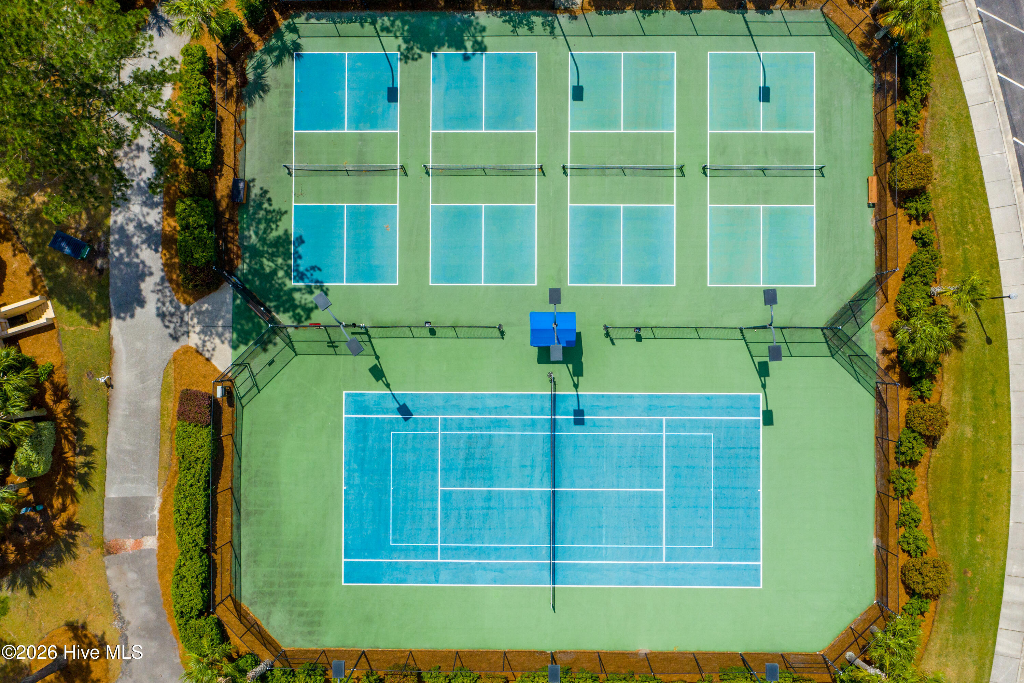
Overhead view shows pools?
No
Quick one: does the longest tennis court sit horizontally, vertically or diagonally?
horizontally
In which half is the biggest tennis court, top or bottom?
bottom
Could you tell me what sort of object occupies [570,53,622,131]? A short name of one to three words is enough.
sports court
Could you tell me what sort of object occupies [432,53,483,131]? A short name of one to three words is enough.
sports court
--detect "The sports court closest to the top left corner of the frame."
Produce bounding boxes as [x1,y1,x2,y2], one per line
[295,53,346,131]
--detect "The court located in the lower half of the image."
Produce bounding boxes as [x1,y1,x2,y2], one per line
[343,392,761,588]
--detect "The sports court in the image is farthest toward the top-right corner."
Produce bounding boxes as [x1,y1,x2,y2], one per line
[762,53,815,131]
